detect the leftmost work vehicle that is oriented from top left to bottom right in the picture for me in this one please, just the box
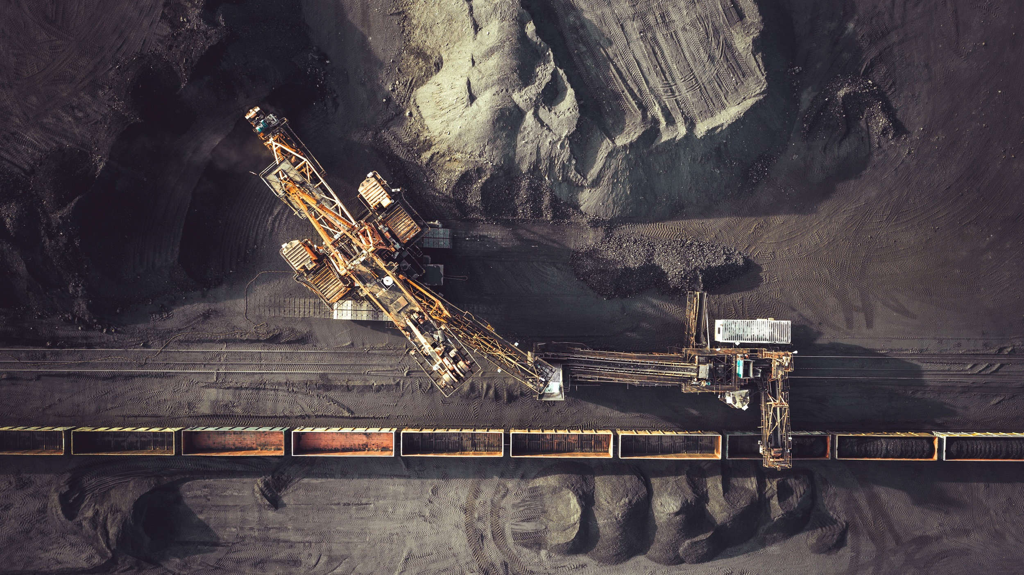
[239,102,556,397]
